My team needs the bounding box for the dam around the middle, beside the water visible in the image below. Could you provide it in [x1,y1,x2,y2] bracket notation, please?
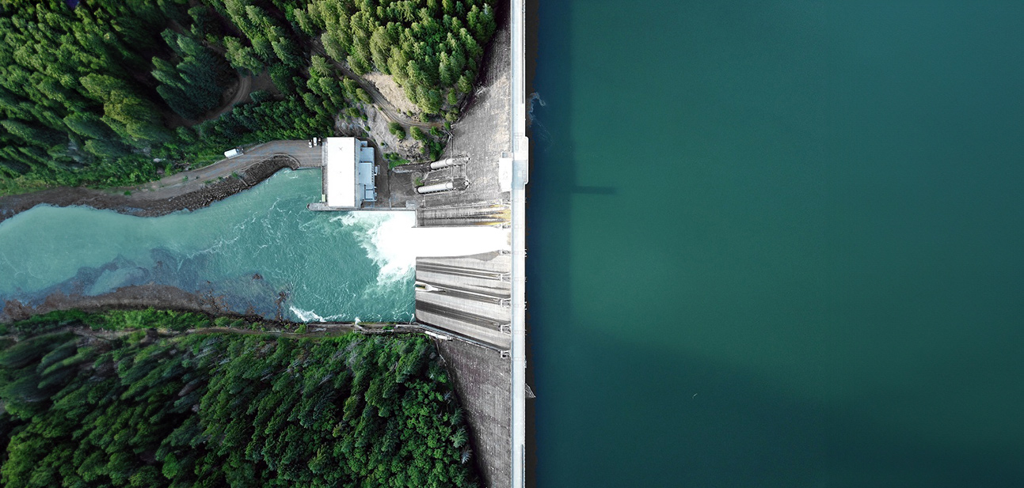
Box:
[409,0,540,488]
